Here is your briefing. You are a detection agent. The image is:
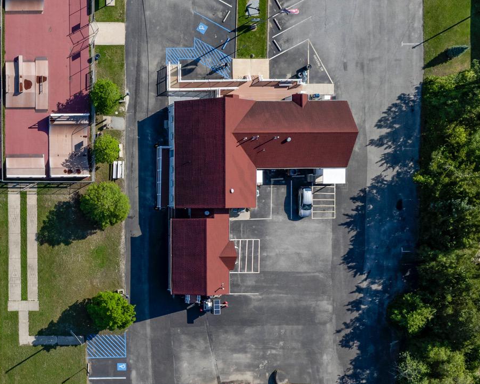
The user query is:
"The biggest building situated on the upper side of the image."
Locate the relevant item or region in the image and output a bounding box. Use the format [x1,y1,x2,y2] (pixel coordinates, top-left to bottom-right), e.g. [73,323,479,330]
[170,94,358,208]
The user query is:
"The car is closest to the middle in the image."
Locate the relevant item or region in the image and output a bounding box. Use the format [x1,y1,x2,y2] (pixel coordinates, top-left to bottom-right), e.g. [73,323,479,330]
[296,185,315,218]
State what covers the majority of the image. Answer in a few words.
paved ground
